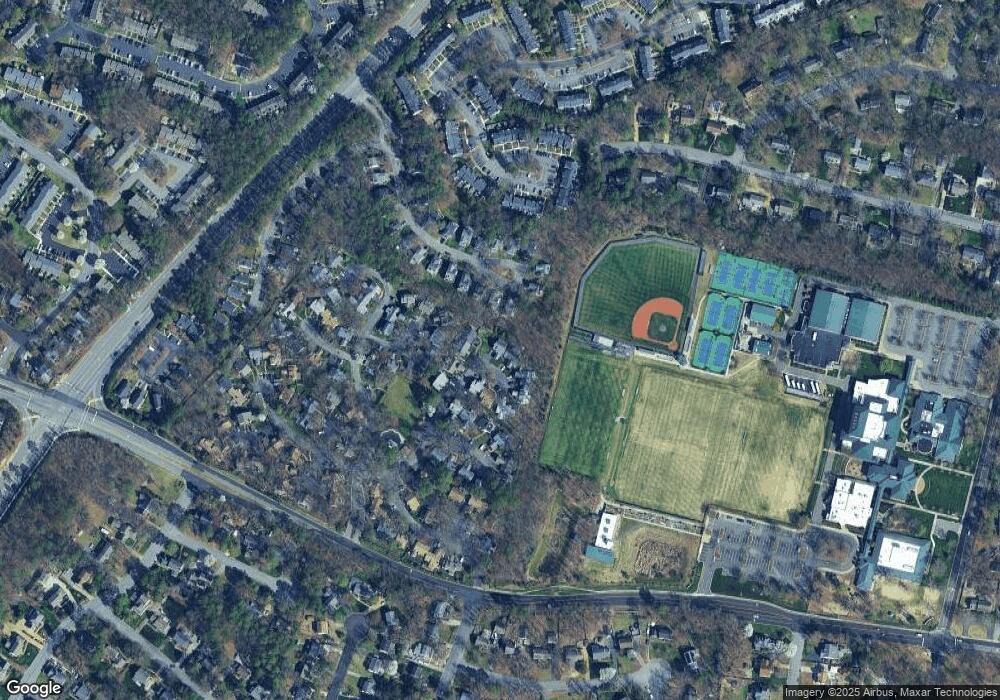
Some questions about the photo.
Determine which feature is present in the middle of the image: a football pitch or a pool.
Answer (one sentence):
It is a football pitch that can be seen in the middle of the image.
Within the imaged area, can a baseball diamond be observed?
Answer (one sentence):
Yes, you can see a baseball diamond in this photo.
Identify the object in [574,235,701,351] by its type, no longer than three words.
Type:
baseball field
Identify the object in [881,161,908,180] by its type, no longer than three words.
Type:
house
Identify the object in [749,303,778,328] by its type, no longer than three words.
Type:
building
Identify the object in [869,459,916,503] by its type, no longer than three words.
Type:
building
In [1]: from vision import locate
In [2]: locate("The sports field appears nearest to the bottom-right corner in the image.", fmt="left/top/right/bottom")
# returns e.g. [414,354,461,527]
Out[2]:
[608,366,822,527]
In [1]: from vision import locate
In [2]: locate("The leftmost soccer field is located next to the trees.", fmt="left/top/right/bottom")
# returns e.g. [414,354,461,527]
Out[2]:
[539,341,634,479]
